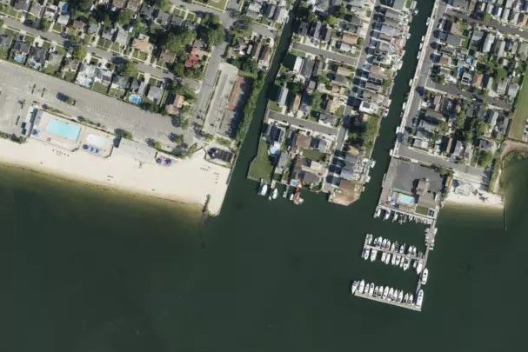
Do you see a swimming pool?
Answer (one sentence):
Yes, you can see a swimming pool in this photo.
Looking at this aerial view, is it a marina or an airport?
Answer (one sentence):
What you see here is a marina.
